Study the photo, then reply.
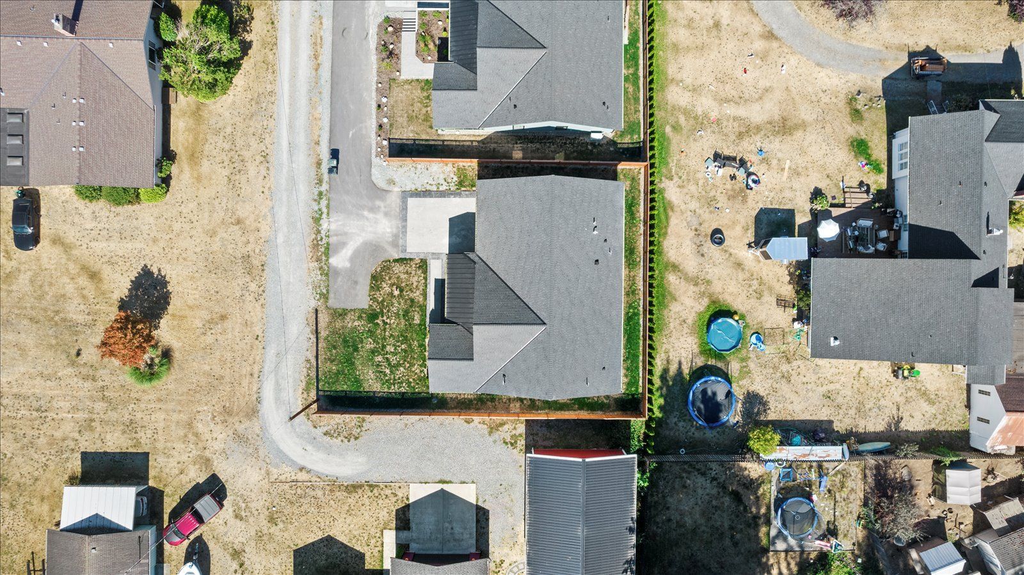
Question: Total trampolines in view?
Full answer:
The photo contains 2 trampolines.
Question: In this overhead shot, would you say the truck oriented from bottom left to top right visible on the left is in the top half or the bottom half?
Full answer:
The bottom half of the photo is where the truck oriented from bottom left to top right visible on the left is.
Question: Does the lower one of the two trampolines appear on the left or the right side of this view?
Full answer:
The lower one of the two trampolines is on the right side of the image.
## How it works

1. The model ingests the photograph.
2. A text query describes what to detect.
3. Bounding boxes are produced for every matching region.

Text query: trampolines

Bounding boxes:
[686,376,743,429]
[773,493,828,548]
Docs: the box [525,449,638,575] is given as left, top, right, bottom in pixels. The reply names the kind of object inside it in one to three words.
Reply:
barn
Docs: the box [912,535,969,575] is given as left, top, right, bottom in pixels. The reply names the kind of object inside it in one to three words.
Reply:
shed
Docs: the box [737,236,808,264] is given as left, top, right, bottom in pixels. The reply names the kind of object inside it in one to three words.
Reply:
trailer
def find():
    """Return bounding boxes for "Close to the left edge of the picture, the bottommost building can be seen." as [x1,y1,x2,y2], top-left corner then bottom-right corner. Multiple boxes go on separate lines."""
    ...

[46,523,164,575]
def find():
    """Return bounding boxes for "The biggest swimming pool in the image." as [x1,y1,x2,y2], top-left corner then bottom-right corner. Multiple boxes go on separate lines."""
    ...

[707,315,746,353]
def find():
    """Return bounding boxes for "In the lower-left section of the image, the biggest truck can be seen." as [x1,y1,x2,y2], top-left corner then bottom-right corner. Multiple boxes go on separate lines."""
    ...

[161,490,227,543]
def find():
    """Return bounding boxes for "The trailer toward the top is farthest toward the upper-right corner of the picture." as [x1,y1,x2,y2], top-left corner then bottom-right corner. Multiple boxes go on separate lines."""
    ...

[916,50,959,80]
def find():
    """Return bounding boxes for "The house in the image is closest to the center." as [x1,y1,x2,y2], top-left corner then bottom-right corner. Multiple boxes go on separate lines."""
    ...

[426,174,625,399]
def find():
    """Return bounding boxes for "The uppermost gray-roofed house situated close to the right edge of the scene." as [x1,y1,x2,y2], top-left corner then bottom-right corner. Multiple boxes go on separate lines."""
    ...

[801,99,1024,386]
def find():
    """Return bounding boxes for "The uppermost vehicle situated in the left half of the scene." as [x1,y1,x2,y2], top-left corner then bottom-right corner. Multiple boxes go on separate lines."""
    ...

[7,192,40,250]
